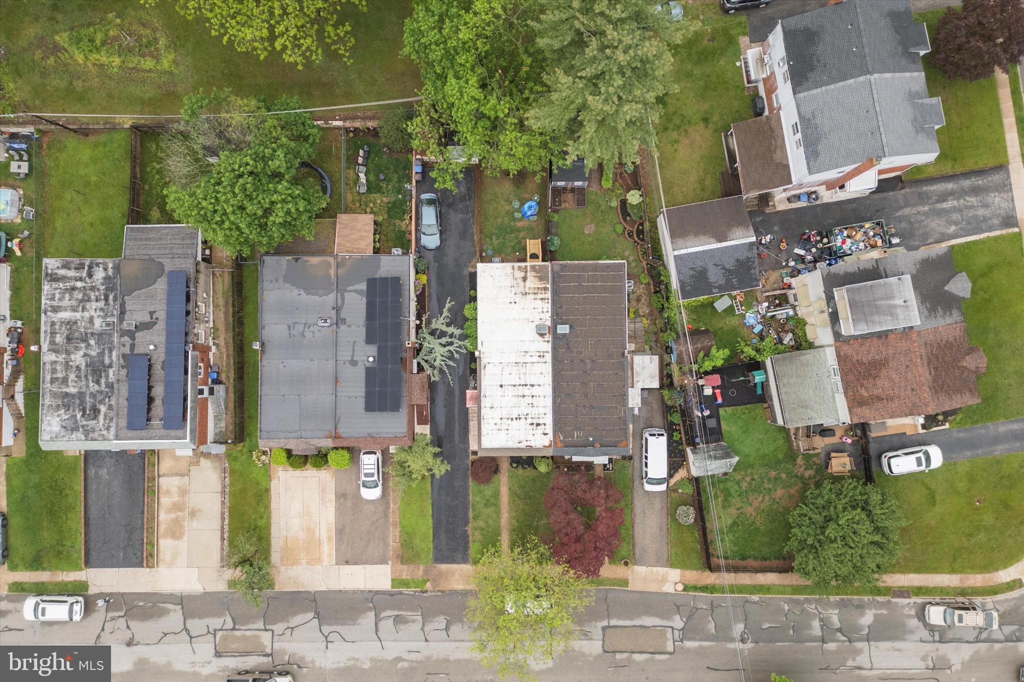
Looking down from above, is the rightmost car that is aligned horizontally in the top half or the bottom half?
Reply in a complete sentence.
The bottom half of the photo is where the rightmost car that is aligned horizontally is.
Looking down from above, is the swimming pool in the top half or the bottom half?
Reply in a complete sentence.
It is in the top half that the swimming pool appears.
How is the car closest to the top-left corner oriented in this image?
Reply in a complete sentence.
I'd say the car closest to the top-left corner is aligned from top to bottom in the picture.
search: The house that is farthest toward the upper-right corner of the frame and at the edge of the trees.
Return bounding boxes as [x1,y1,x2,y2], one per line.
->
[723,0,946,210]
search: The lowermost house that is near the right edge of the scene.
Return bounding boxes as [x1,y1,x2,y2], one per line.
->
[763,247,987,447]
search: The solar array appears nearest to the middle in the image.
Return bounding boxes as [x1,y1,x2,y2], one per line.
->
[366,277,401,412]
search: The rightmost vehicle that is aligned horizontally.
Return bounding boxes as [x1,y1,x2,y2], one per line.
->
[930,604,1008,634]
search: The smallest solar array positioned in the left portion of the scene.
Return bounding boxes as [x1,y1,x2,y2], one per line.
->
[127,356,149,429]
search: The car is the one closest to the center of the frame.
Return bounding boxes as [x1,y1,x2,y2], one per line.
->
[414,192,441,248]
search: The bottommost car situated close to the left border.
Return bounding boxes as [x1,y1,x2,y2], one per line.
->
[24,596,83,627]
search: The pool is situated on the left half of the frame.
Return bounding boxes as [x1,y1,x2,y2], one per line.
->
[0,184,27,219]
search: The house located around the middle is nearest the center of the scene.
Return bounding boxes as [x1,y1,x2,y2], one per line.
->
[466,260,658,465]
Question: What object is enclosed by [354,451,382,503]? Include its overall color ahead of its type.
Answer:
white car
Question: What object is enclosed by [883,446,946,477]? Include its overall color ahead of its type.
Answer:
white car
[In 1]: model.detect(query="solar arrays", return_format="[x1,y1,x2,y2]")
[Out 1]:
[127,356,149,429]
[366,277,401,412]
[162,271,187,429]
